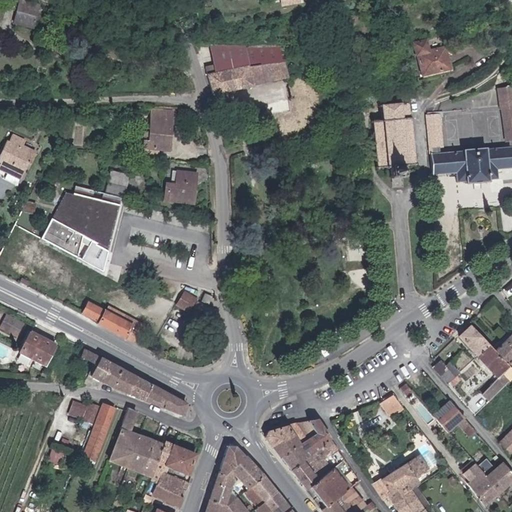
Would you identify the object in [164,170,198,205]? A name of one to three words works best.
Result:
house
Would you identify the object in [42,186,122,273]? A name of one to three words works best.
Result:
building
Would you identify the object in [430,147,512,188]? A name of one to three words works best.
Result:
building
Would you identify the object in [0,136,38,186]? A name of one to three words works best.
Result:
house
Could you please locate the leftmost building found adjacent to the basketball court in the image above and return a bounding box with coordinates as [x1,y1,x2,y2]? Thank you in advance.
[371,103,417,193]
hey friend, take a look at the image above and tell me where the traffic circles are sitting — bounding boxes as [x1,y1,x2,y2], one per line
[201,373,257,429]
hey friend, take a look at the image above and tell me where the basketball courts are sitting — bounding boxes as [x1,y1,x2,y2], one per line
[442,107,504,150]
